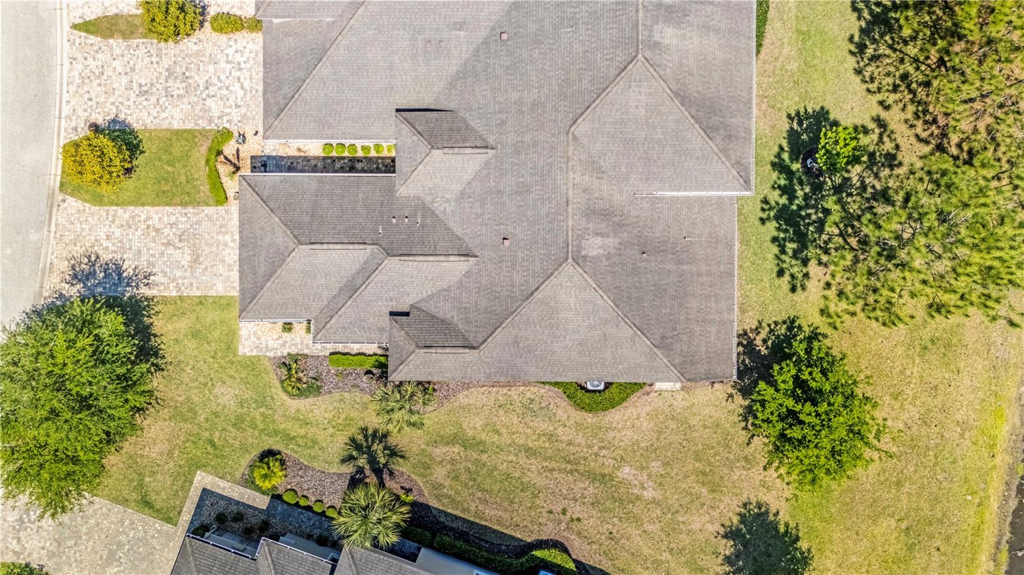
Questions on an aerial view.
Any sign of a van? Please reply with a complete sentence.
No, I can't see a single van in this photo.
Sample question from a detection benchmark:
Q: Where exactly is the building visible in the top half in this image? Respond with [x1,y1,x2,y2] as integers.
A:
[239,0,758,382]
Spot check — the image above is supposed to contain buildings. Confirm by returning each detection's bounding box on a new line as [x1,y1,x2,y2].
[172,521,496,575]
[239,0,758,382]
